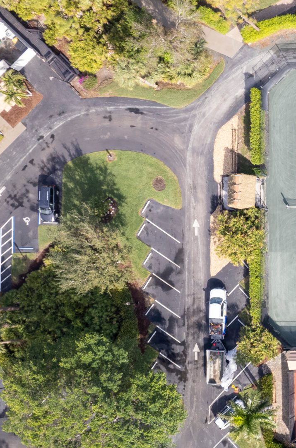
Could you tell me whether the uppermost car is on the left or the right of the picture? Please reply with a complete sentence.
The uppermost car appears in the left half of the scene.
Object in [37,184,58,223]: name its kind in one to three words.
car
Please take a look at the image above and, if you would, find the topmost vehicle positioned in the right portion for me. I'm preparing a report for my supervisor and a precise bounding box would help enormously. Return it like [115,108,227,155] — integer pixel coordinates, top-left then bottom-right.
[207,291,228,341]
